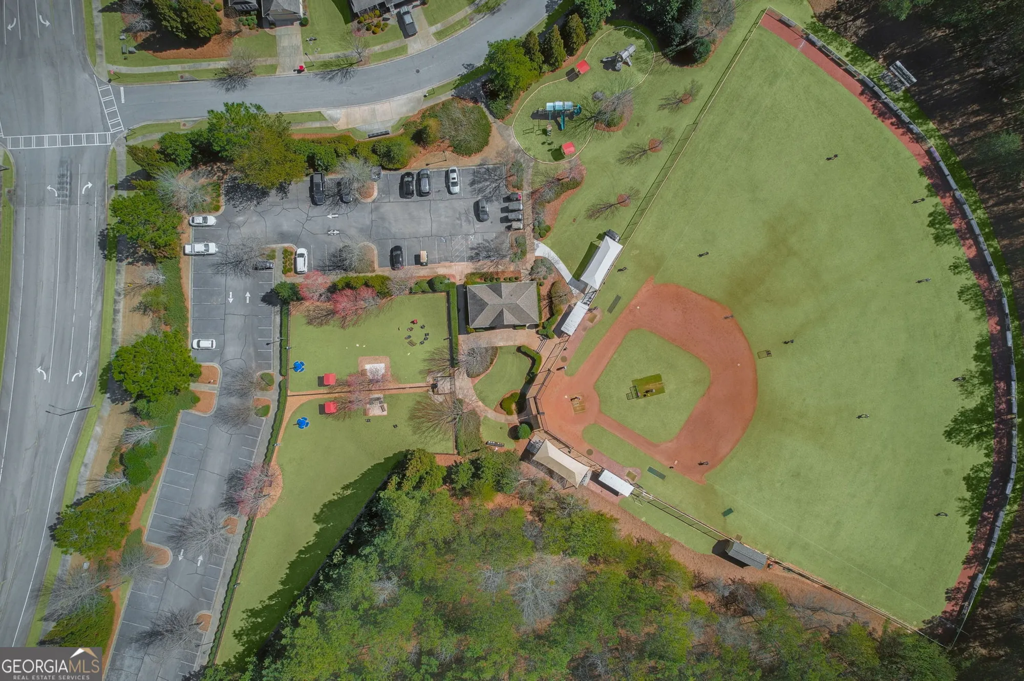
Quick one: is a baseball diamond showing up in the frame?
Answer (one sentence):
Yes, the photo shows a baseball diamond.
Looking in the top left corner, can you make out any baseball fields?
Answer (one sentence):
No, I see no baseball field in the top left corner.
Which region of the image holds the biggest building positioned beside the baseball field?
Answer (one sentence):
The biggest building positioned beside the baseball field sits in the center section of the image.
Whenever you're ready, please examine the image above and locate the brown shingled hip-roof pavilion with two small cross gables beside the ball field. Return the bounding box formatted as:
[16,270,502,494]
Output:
[467,280,540,328]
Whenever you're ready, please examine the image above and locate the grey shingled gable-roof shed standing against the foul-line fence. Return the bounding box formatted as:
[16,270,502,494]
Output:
[727,541,767,570]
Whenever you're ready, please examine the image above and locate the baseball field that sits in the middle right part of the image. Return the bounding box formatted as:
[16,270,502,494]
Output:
[536,11,1010,644]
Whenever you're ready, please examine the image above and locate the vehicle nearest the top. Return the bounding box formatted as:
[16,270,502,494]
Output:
[400,4,419,37]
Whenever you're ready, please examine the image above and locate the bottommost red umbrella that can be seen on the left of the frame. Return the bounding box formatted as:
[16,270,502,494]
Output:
[325,402,338,414]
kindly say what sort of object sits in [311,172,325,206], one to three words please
vehicle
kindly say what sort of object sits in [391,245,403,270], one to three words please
vehicle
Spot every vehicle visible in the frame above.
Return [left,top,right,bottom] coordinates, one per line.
[192,338,217,350]
[339,177,352,204]
[190,214,217,227]
[252,259,277,271]
[508,212,522,221]
[511,221,523,229]
[447,167,459,194]
[508,193,523,202]
[418,168,431,197]
[311,172,325,206]
[509,202,522,211]
[183,242,219,255]
[295,248,308,273]
[401,172,414,199]
[419,249,427,265]
[605,230,619,242]
[391,245,403,270]
[477,197,489,222]
[400,4,419,37]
